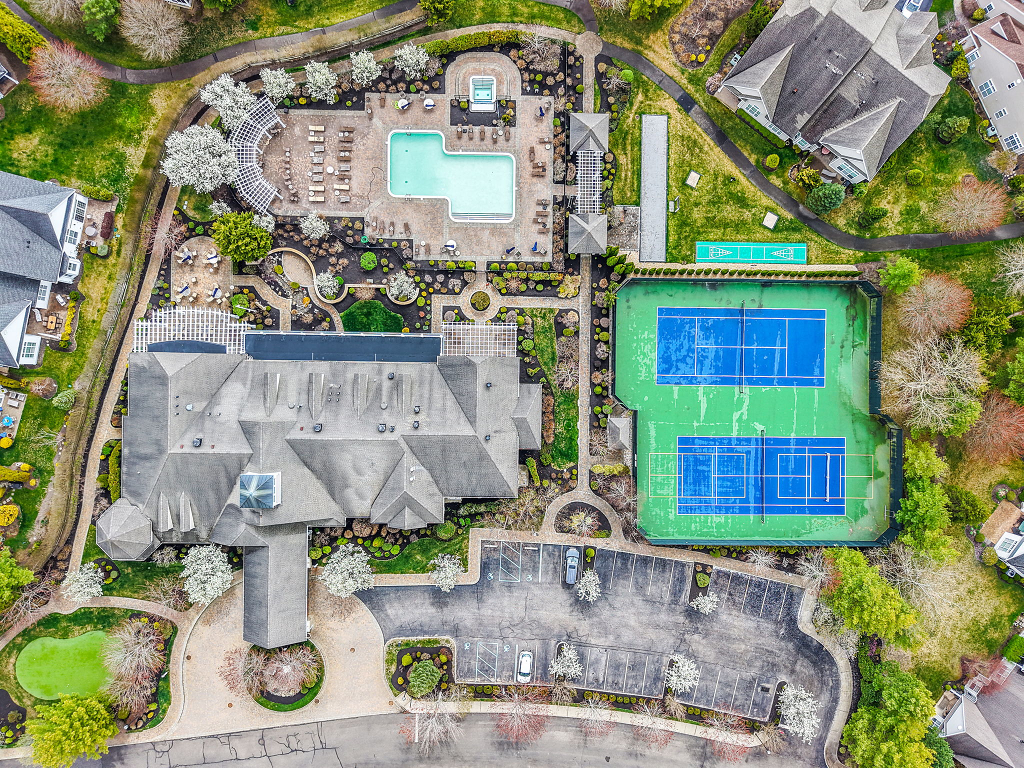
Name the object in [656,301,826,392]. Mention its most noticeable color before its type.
blue tennis court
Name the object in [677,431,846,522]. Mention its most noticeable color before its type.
blue tennis court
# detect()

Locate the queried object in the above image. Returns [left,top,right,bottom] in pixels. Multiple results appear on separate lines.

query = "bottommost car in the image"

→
[517,650,533,682]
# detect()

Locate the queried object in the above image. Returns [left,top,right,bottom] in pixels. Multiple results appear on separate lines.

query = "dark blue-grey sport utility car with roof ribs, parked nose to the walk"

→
[564,547,581,584]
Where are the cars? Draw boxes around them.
[564,547,581,584]
[903,0,924,16]
[517,650,533,682]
